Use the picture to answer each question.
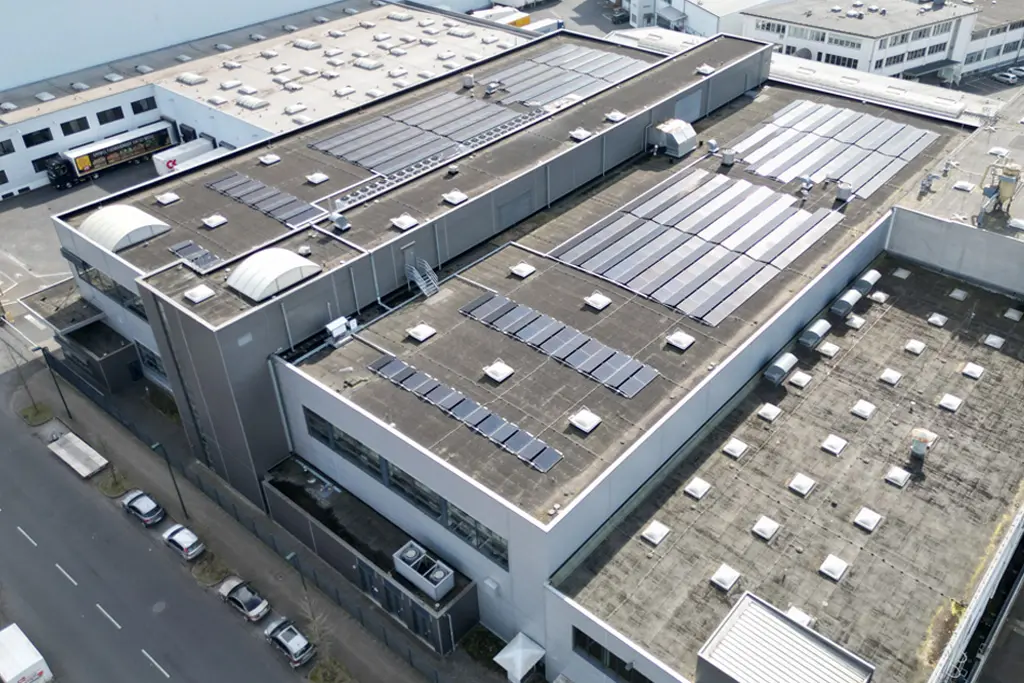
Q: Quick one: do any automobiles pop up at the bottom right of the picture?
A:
No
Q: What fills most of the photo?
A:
buildings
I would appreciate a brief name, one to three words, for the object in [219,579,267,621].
car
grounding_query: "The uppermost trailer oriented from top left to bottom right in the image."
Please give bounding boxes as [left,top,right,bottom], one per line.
[50,433,107,477]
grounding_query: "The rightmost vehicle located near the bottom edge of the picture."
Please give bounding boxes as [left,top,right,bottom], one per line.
[264,620,315,667]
